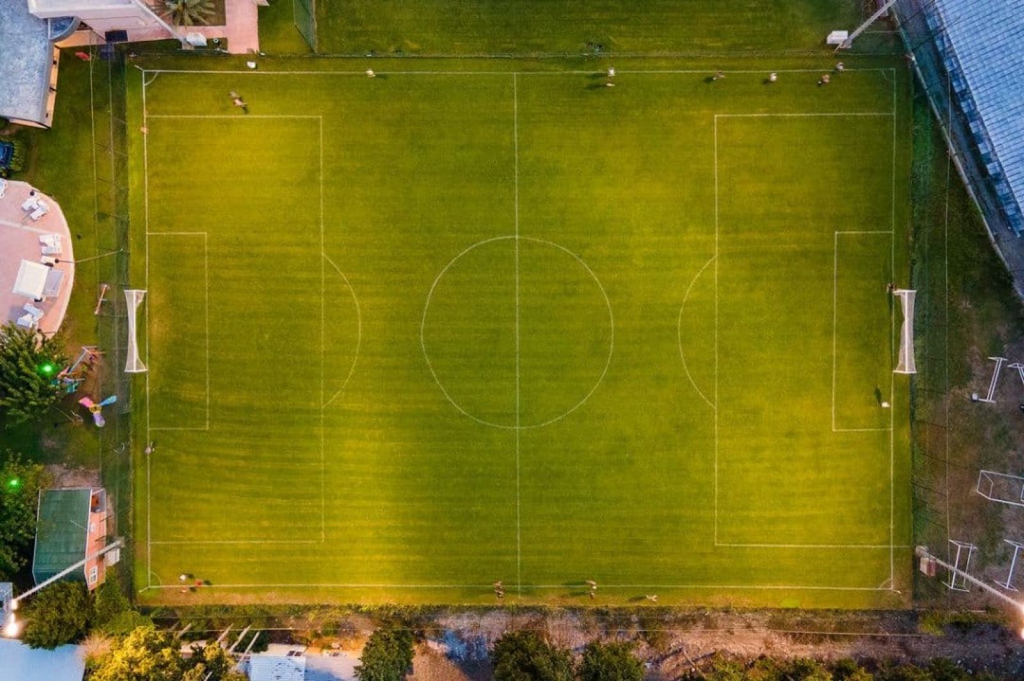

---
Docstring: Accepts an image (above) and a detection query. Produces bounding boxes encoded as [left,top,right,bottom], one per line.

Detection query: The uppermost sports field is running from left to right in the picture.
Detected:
[316,0,891,53]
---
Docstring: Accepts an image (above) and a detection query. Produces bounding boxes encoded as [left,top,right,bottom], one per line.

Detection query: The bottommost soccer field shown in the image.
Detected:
[129,56,912,606]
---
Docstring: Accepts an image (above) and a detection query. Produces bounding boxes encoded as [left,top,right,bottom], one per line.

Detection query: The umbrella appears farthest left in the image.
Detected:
[14,260,49,299]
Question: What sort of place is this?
sports ground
